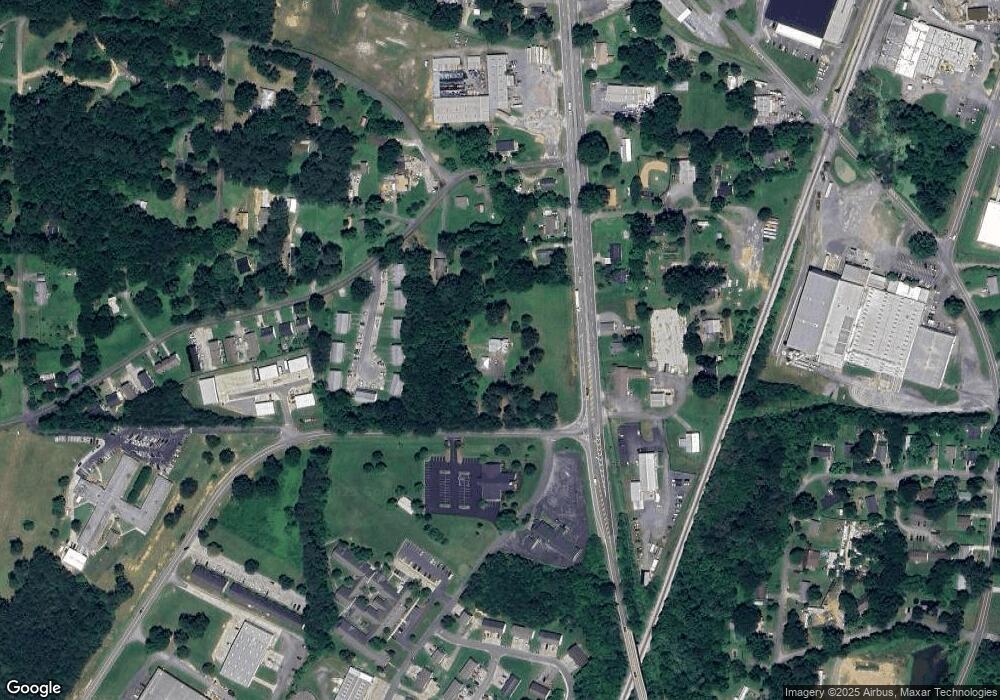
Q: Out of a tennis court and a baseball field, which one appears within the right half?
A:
baseball field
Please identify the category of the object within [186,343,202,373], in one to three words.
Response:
house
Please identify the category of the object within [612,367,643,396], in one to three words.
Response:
building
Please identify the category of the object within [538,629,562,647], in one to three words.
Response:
house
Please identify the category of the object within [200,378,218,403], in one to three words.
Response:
building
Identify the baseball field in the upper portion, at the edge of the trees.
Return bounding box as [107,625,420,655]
[628,156,677,197]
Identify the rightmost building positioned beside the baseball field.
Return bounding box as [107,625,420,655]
[679,160,697,185]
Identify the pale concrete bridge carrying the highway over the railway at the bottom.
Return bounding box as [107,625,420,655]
[622,630,646,700]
